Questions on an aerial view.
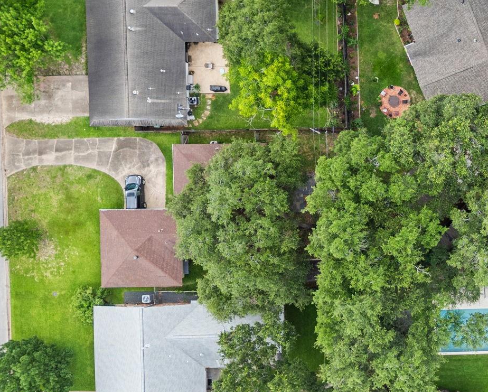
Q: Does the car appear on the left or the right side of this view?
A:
left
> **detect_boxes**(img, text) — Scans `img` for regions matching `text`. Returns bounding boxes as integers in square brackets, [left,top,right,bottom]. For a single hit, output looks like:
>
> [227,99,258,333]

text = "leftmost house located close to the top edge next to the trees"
[86,0,222,127]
